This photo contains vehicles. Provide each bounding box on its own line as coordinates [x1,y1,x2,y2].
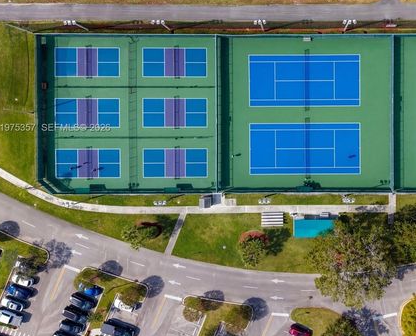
[12,273,36,289]
[101,321,133,336]
[80,284,102,296]
[61,319,85,335]
[290,323,311,336]
[71,292,96,309]
[62,306,89,323]
[6,284,32,301]
[1,297,26,314]
[114,296,136,314]
[0,309,23,329]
